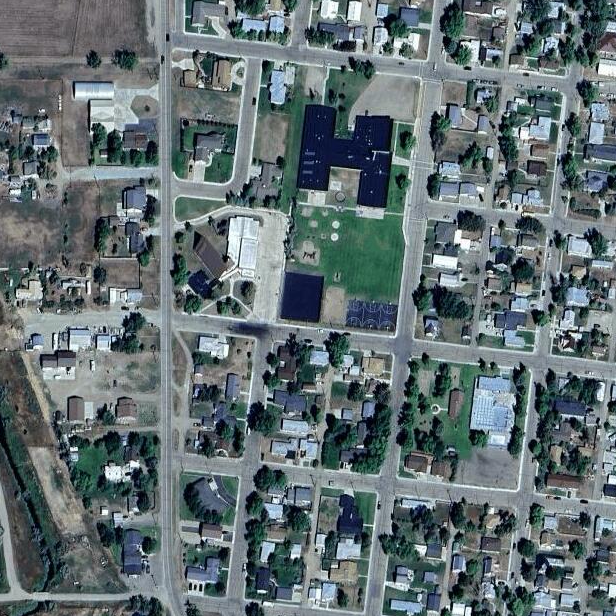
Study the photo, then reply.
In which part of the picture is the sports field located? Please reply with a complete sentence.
The sports field appears toward the center of the photo.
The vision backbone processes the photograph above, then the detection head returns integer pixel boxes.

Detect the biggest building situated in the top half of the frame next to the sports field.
[298,103,394,210]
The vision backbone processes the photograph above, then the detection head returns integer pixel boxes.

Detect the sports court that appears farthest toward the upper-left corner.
[281,272,324,321]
